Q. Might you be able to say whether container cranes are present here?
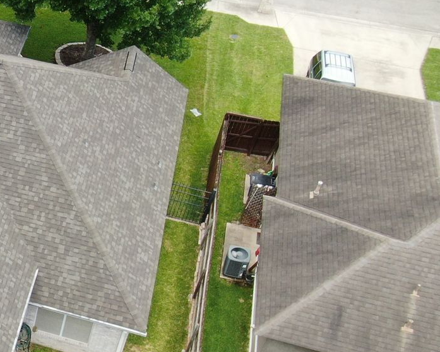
No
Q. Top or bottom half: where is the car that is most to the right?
top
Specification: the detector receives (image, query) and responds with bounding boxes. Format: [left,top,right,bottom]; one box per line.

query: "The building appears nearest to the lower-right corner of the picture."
[247,74,440,352]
